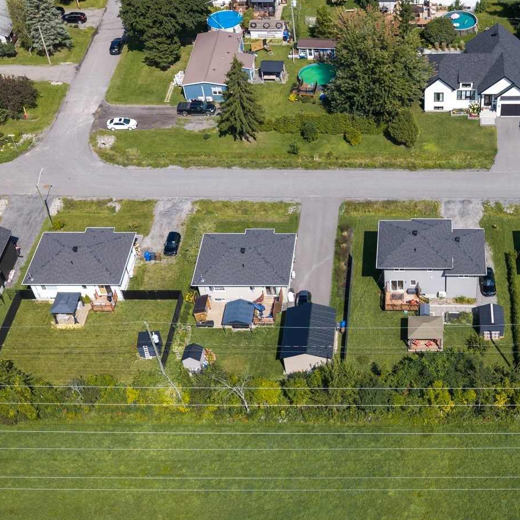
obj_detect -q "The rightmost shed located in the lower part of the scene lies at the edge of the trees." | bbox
[478,303,505,337]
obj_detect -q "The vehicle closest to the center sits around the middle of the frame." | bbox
[294,282,315,306]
